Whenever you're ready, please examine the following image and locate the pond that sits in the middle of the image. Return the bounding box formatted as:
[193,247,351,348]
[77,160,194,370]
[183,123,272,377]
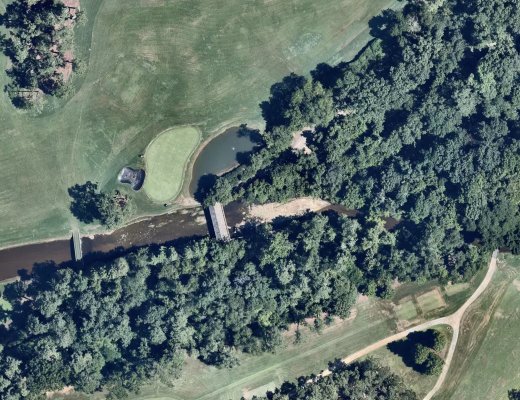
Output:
[188,123,268,204]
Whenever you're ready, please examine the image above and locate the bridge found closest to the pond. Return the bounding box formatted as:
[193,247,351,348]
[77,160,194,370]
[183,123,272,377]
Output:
[206,198,231,245]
